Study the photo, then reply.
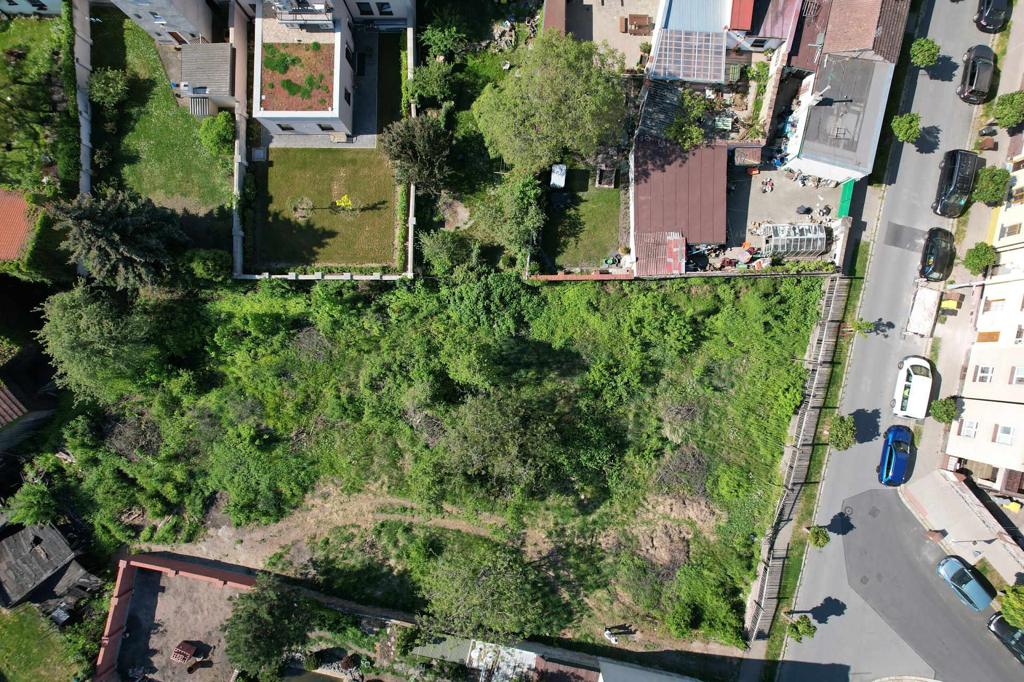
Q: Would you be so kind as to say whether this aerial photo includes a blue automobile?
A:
Yes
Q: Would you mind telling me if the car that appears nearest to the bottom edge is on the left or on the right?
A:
right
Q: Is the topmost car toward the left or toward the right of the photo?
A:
right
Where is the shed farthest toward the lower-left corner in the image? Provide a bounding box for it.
[0,516,104,609]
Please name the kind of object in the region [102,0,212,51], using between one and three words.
house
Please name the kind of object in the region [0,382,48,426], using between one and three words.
shed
